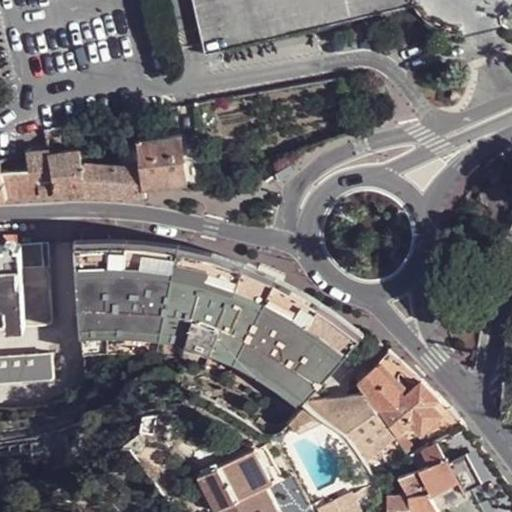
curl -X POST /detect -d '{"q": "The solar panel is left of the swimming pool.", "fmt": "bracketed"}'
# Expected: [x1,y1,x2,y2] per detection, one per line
[240,458,266,490]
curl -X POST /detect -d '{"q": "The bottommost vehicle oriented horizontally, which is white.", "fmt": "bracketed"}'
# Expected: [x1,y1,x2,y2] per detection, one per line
[152,225,180,238]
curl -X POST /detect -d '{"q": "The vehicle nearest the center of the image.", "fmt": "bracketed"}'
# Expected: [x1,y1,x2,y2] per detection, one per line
[307,268,328,292]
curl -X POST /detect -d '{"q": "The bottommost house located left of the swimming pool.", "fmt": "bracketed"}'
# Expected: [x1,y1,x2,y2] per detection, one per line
[197,442,284,512]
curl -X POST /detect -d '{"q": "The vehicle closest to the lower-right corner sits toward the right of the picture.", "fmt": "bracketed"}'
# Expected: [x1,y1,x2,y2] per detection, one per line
[328,284,352,304]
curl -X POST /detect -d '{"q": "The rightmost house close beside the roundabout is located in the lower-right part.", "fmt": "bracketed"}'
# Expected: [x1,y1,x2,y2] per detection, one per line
[358,352,458,443]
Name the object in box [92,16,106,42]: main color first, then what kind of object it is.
white vehicle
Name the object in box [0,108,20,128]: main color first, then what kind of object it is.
white car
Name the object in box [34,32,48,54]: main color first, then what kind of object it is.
white vehicle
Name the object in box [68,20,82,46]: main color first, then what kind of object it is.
white car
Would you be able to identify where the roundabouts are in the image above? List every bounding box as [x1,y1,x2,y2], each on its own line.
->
[296,162,436,308]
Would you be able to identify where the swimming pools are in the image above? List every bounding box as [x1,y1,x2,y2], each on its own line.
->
[285,421,370,498]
